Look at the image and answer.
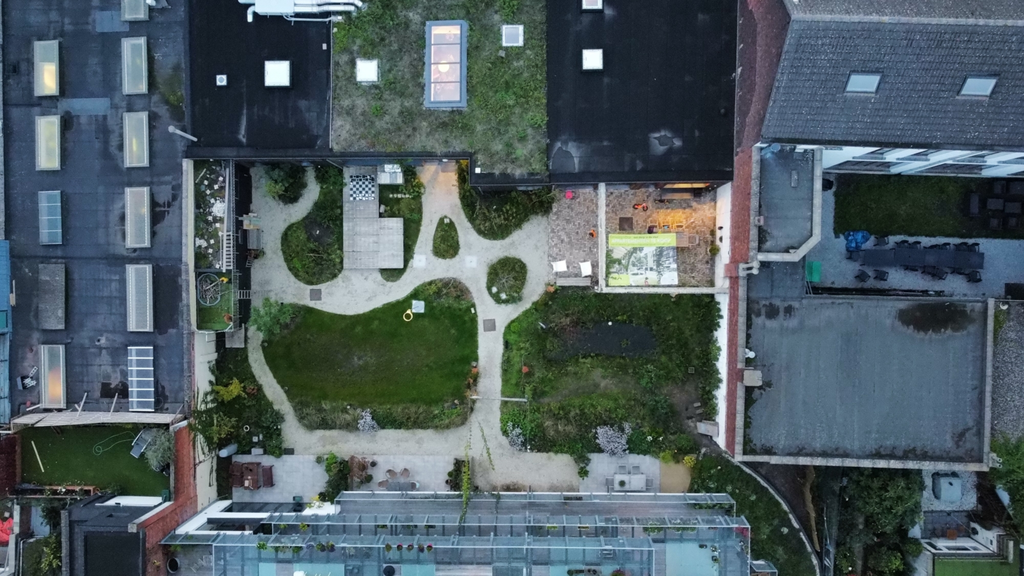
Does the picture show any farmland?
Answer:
No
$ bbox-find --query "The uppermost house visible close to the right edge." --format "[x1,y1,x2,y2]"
[734,0,1024,178]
